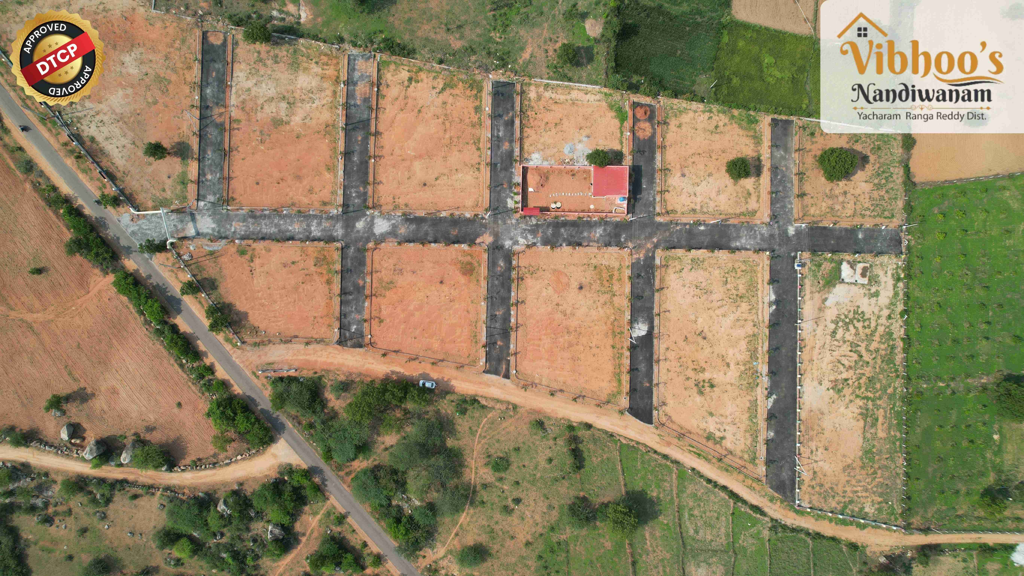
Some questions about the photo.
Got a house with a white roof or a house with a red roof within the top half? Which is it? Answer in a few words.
house with a red roof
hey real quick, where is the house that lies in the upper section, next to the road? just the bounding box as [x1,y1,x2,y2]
[592,165,629,198]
